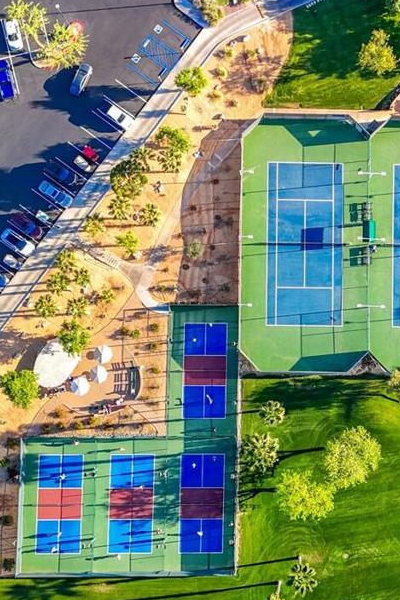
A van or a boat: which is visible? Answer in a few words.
van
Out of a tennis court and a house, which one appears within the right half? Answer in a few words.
tennis court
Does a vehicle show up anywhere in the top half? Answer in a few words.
Yes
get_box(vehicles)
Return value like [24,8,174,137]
[71,62,93,97]
[9,211,43,239]
[5,22,24,53]
[79,145,101,163]
[34,210,56,228]
[0,60,15,100]
[0,227,35,256]
[72,154,93,172]
[48,157,81,185]
[102,103,136,131]
[0,252,24,271]
[38,180,73,208]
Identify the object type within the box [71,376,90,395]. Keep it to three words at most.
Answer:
umbrella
